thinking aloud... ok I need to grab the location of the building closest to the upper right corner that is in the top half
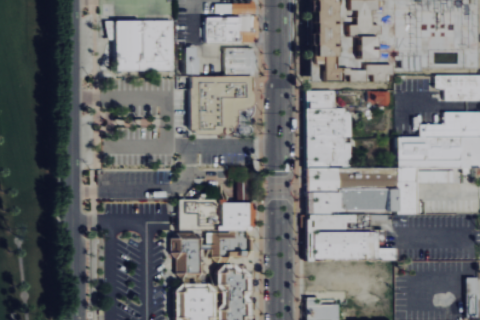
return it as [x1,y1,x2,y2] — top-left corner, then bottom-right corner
[431,75,480,102]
